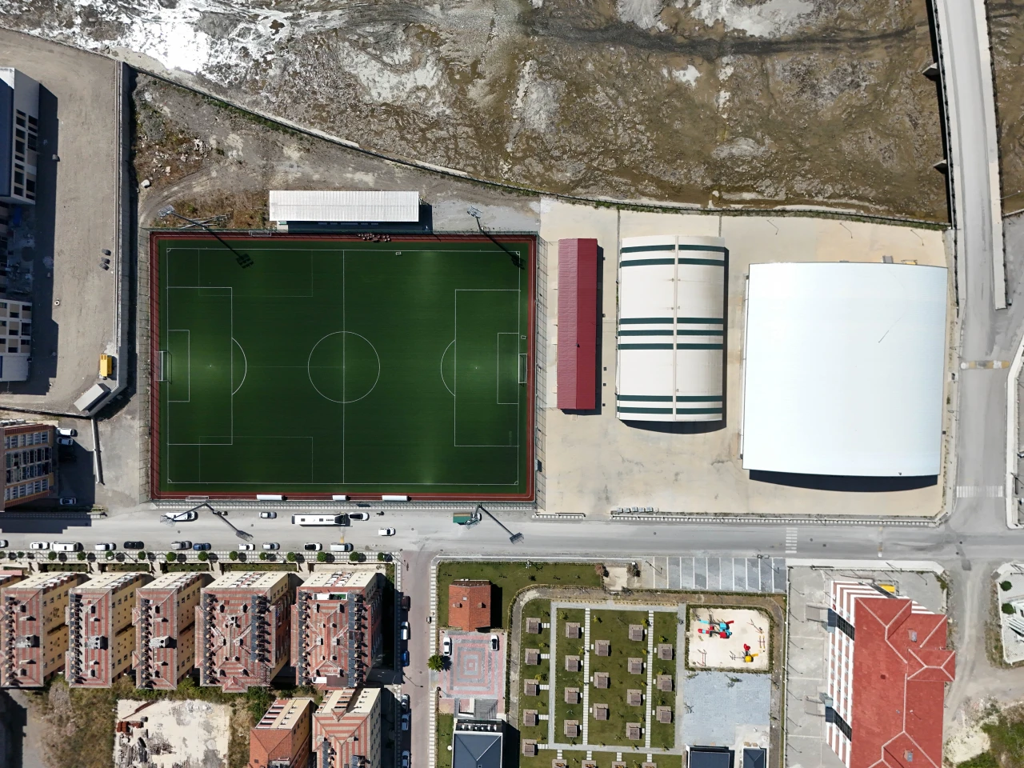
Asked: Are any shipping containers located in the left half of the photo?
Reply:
Yes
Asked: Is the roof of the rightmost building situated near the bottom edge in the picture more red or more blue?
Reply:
red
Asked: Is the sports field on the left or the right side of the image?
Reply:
left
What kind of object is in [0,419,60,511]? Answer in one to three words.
building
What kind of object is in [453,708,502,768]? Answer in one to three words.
house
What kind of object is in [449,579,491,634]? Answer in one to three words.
house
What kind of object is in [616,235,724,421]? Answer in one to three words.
building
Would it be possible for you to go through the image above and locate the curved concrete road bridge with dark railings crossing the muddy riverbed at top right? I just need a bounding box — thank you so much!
[918,0,1007,231]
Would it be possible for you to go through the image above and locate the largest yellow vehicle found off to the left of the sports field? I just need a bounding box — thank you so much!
[99,355,113,379]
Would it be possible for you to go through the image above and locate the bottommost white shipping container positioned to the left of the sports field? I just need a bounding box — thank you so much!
[75,384,110,411]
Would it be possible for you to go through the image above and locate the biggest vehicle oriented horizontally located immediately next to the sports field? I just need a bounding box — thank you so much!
[292,514,347,527]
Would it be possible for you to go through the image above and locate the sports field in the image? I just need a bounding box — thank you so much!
[149,231,535,503]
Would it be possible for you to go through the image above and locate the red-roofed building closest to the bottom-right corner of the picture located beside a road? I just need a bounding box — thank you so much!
[819,583,956,768]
